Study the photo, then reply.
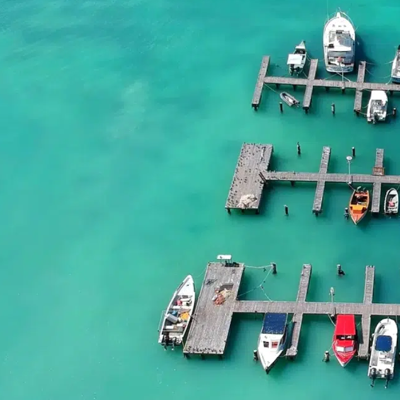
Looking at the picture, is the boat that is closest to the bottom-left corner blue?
No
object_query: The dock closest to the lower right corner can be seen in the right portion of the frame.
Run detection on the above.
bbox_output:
[359,315,372,363]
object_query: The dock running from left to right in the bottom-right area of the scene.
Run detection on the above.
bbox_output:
[234,301,400,320]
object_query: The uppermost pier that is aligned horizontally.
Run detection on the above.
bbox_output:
[264,76,400,94]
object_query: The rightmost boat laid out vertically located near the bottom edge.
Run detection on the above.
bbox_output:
[370,315,400,388]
